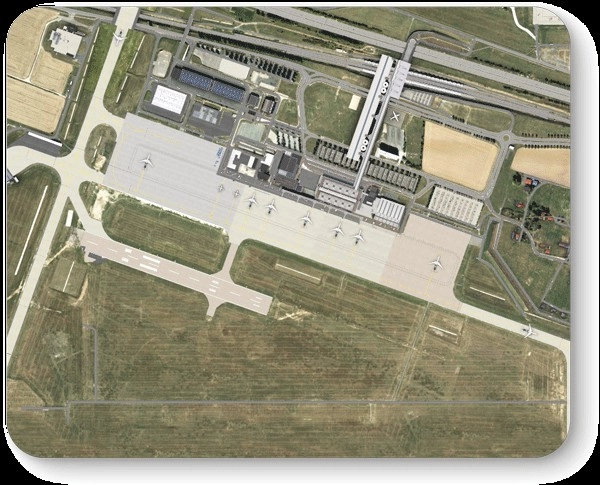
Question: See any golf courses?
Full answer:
No, this view has no golf course in it.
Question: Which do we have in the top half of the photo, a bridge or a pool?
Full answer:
Visible in the top half of the photo is a bridge.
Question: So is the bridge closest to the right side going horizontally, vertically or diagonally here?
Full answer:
In this picture, the bridge closest to the right side lies horizontally.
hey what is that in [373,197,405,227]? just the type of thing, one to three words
building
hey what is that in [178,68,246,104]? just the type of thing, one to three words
hangar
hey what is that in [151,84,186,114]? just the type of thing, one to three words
building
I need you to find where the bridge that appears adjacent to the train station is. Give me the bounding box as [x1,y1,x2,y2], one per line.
[402,30,476,65]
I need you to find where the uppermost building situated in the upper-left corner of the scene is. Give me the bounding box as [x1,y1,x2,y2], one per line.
[49,28,81,57]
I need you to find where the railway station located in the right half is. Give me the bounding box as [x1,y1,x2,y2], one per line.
[344,57,478,100]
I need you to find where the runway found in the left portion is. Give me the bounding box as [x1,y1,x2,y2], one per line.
[77,230,272,317]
